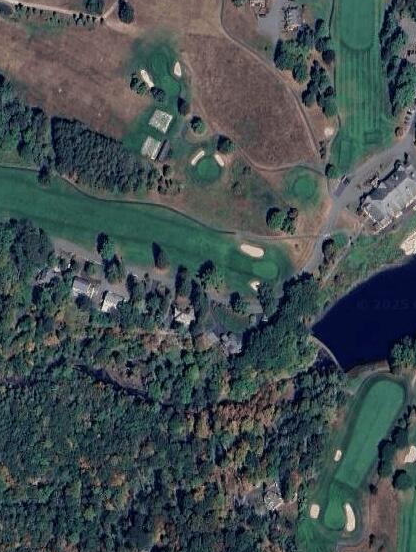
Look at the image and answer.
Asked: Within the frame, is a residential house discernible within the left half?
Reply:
Yes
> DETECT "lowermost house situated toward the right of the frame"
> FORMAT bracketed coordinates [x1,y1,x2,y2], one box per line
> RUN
[260,482,287,511]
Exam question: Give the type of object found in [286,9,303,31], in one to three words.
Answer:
house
